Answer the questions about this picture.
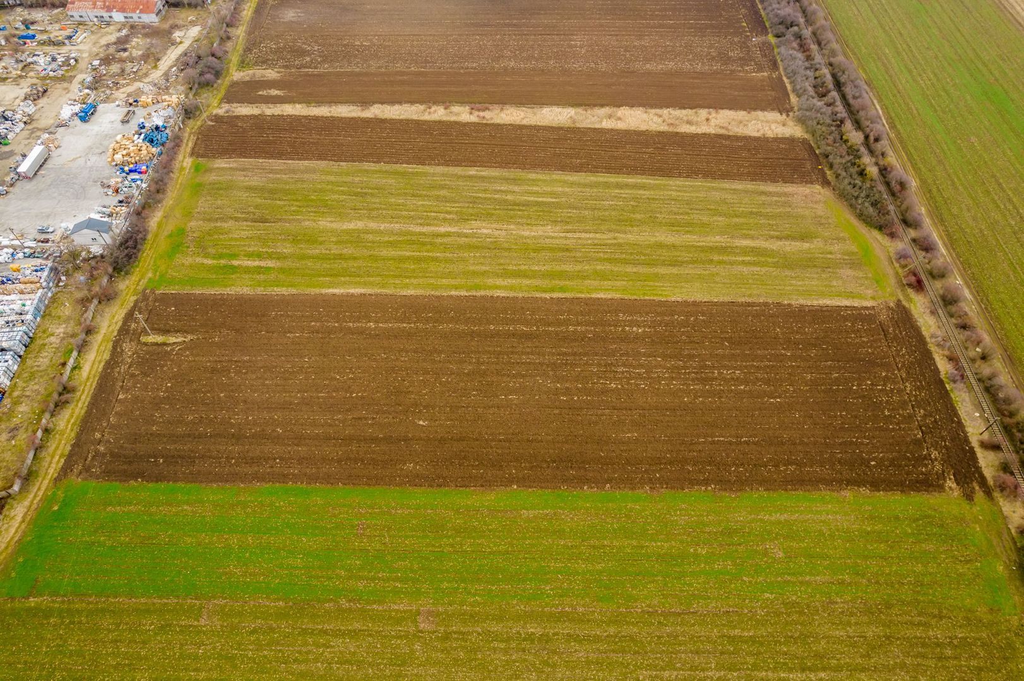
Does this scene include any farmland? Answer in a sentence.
Yes, farmland can be seen from above here.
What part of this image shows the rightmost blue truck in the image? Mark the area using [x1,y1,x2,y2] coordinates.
[73,100,100,122]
